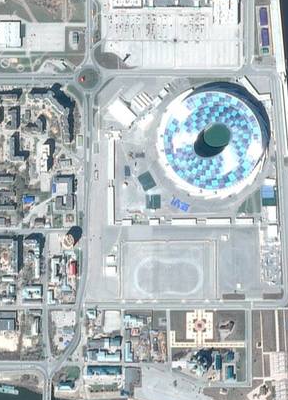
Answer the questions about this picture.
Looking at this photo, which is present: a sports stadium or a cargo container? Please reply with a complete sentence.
The one in the frame is a sports stadium.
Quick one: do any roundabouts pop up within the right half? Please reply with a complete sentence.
No, no roundabout can be made out within the right half.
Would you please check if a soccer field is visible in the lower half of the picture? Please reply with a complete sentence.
No, there's no soccer field to be seen in the lower half of the picture.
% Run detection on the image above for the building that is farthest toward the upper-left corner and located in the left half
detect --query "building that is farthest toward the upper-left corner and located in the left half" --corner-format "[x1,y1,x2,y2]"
[1,22,21,47]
